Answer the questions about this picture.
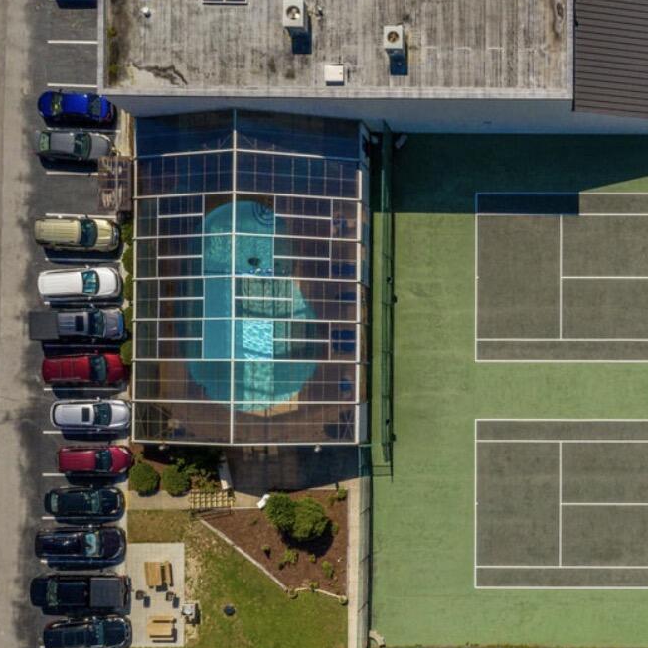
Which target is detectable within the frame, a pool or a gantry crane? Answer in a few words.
pool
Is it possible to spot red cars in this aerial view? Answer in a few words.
Yes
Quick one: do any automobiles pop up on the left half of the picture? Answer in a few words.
Yes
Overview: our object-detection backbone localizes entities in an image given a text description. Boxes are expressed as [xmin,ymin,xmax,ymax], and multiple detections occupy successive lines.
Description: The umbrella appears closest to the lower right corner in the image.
[341,378,358,390]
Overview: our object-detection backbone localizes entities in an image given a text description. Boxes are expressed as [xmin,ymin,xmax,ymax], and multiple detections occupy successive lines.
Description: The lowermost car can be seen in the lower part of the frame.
[47,614,135,647]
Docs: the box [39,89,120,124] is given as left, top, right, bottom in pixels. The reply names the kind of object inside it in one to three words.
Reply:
car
